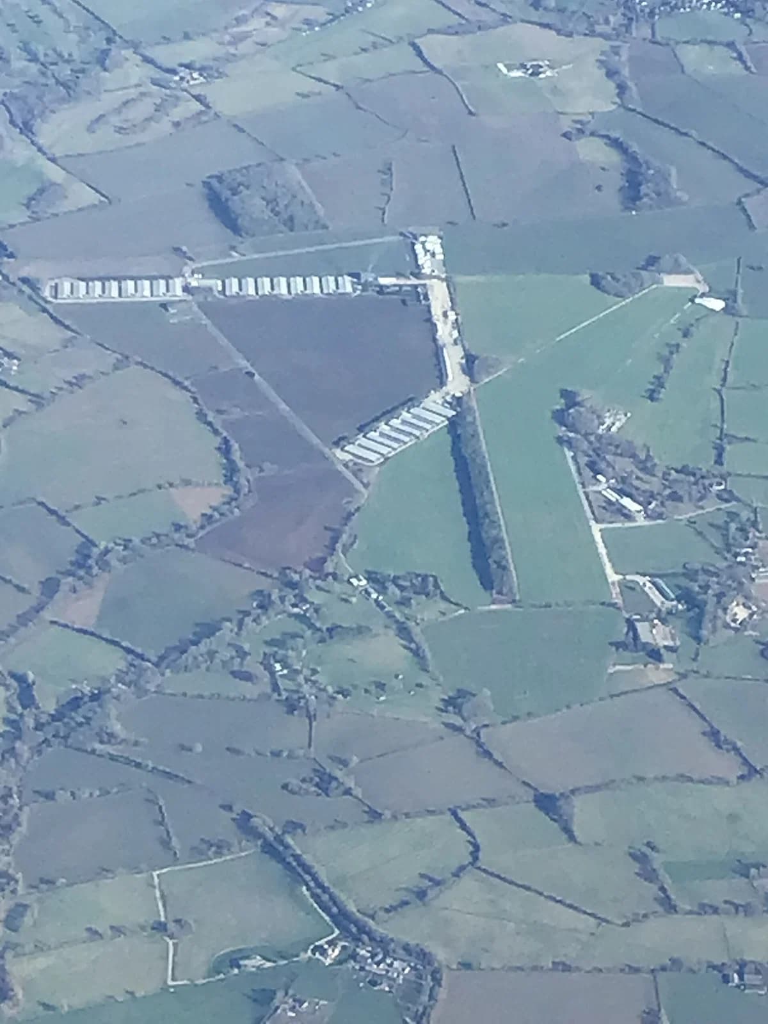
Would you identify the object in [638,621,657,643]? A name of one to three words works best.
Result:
barn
